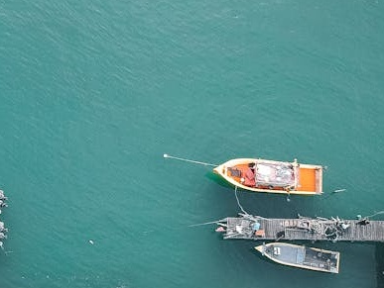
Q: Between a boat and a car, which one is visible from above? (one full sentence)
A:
There is a boat in the scene.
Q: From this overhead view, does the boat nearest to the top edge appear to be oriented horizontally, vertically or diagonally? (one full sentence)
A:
In this picture, the boat nearest to the top edge lies horizontally.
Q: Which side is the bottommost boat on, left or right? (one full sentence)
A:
The bottommost boat appears in the right half of the scene.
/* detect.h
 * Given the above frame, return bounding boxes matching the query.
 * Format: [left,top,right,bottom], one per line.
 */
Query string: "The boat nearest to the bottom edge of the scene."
[250,242,340,273]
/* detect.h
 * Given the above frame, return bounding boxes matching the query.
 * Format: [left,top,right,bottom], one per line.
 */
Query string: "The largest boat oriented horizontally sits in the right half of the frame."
[210,159,324,201]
